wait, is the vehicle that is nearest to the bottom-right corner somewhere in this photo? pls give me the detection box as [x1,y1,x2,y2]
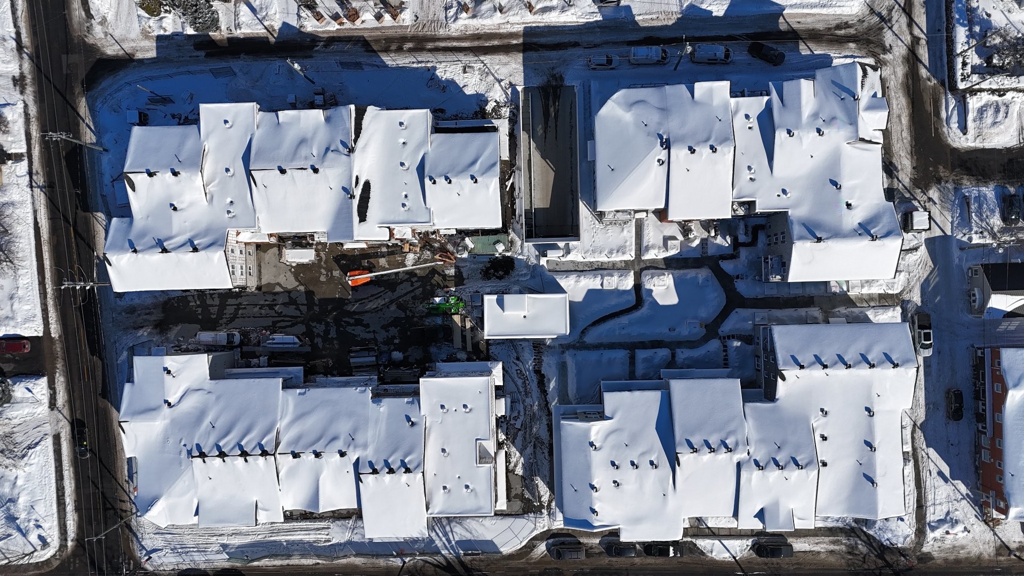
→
[944,387,964,421]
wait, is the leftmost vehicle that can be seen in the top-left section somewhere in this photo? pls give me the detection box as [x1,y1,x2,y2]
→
[126,111,153,126]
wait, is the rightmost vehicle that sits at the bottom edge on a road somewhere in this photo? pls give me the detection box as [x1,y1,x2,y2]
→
[752,541,794,559]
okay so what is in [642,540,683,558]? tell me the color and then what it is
black vehicle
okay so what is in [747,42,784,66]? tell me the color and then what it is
black car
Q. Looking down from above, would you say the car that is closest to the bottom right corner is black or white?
black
